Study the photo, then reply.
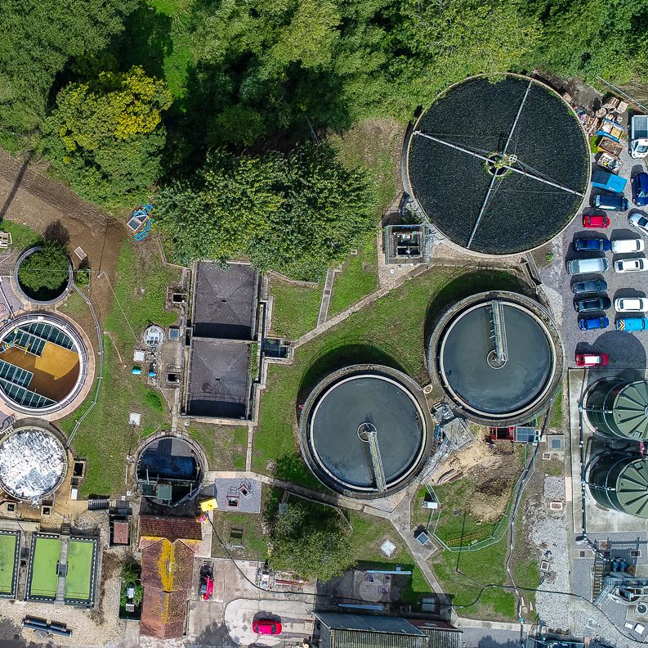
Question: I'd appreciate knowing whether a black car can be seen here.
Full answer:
Yes, there's a black car down there.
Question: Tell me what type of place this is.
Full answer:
It's an industrial area.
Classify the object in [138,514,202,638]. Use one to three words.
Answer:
house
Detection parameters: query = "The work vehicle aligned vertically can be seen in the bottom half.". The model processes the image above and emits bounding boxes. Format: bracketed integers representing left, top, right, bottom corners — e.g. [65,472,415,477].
[196,558,214,600]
